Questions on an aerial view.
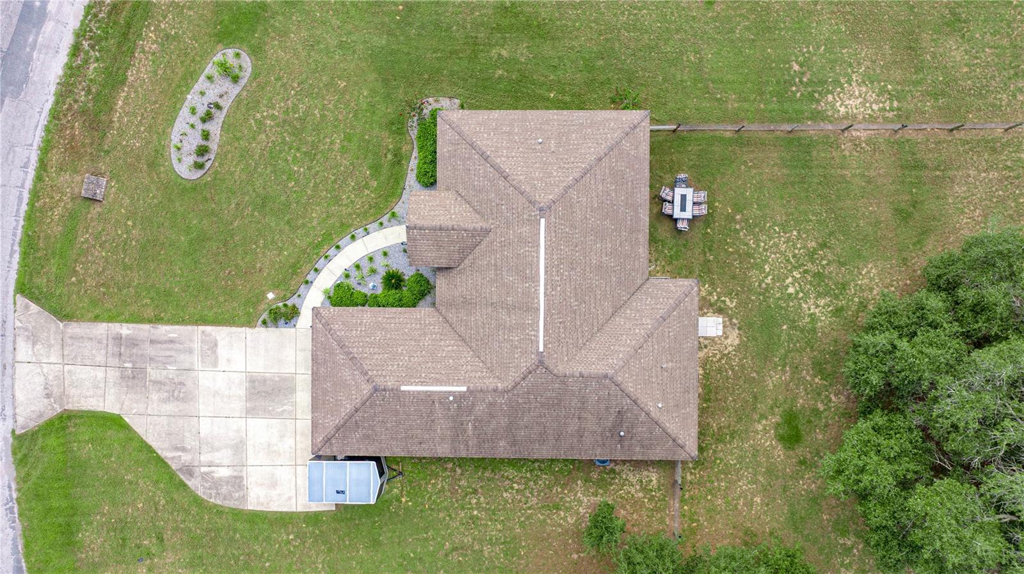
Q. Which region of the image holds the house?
center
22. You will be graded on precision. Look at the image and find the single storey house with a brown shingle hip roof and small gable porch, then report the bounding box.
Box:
[311,109,699,461]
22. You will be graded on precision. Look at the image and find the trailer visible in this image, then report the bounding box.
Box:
[307,455,404,504]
